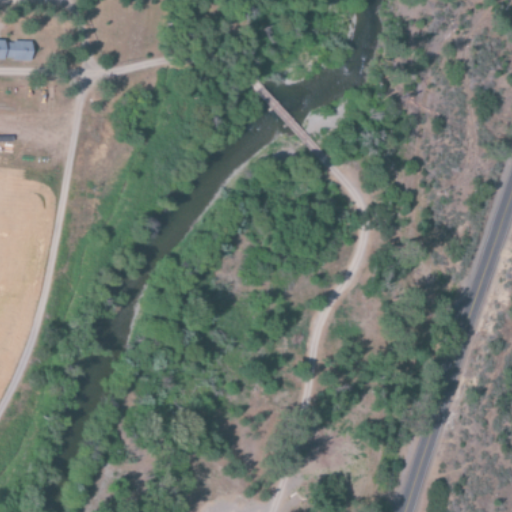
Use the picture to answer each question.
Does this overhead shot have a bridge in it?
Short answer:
Yes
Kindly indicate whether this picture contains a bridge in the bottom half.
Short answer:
No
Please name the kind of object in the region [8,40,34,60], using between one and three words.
house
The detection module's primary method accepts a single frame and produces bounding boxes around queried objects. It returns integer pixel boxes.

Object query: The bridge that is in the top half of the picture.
[252,78,320,156]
